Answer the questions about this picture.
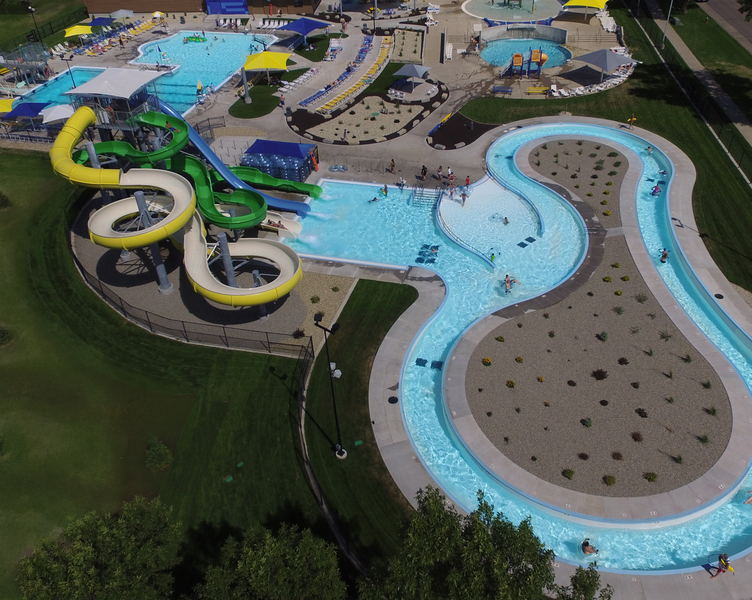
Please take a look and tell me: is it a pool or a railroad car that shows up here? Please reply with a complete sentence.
I can see a pool in this picture.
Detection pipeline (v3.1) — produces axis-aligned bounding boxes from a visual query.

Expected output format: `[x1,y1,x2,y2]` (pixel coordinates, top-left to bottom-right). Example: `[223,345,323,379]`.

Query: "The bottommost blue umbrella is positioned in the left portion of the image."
[1,103,53,129]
